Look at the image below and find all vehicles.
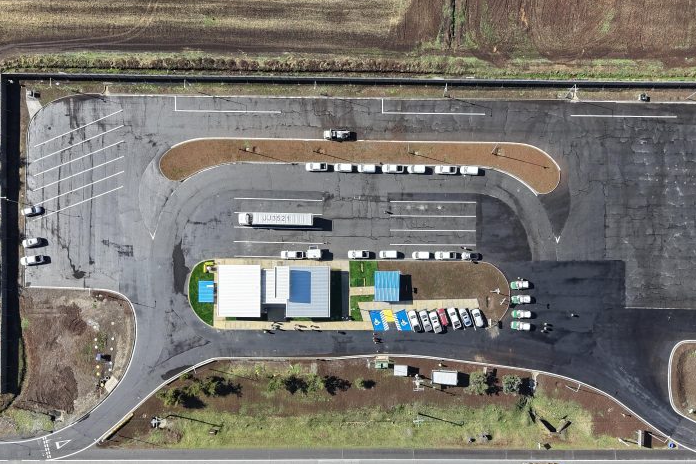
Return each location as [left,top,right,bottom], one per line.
[21,256,44,265]
[459,166,479,175]
[282,250,304,260]
[407,164,426,174]
[357,163,377,173]
[430,312,441,332]
[472,308,484,328]
[435,251,457,261]
[438,307,449,327]
[379,250,398,260]
[240,213,313,226]
[324,128,350,141]
[347,250,370,260]
[435,165,457,175]
[510,295,531,304]
[305,163,328,172]
[510,321,531,330]
[509,281,530,289]
[334,163,354,172]
[382,164,404,173]
[511,310,532,318]
[449,307,461,329]
[23,239,42,247]
[411,251,431,260]
[409,311,420,331]
[420,311,432,331]
[460,308,471,327]
[462,252,481,261]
